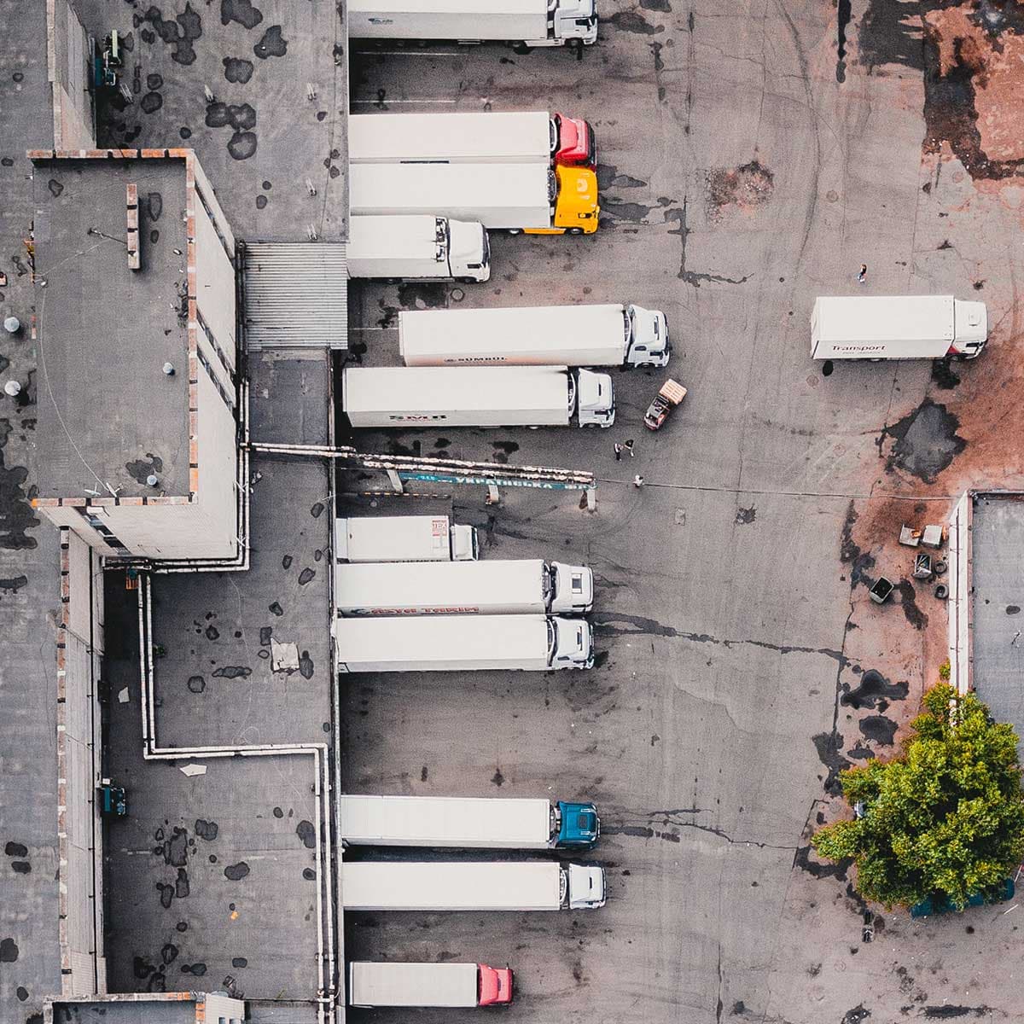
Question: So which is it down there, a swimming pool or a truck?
truck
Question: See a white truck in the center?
Yes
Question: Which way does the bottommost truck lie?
horizontally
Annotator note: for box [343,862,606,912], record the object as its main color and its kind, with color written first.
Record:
white truck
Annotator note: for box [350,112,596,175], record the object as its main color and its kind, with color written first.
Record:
white truck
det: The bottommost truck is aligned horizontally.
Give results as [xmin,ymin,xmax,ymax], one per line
[351,962,514,1010]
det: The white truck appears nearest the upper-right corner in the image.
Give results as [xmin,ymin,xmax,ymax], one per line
[810,295,992,365]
